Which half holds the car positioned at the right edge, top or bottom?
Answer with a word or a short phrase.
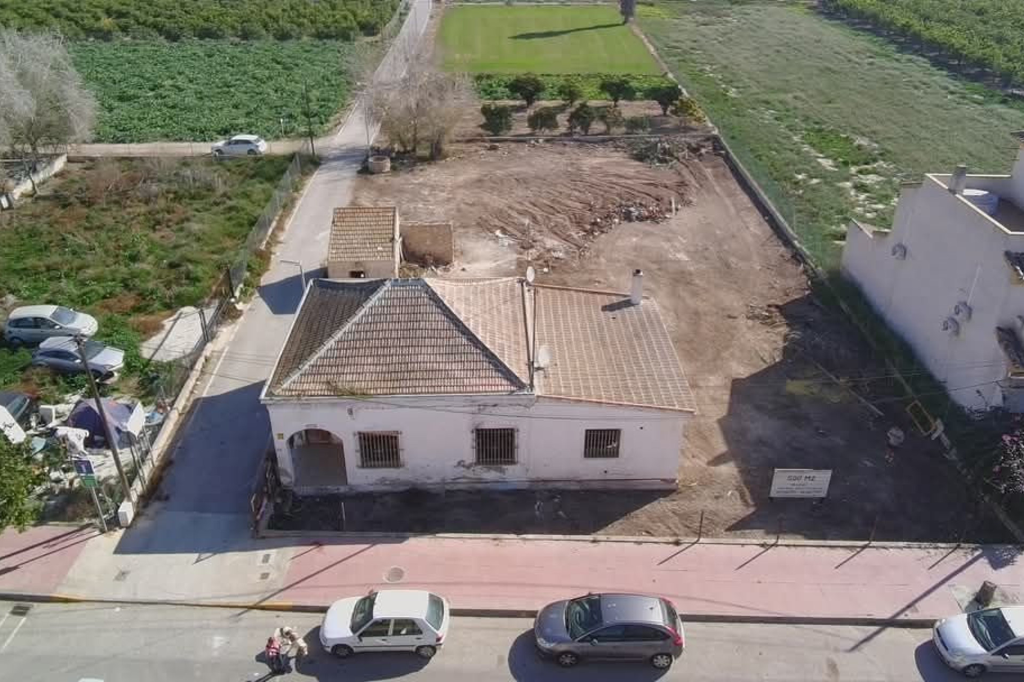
bottom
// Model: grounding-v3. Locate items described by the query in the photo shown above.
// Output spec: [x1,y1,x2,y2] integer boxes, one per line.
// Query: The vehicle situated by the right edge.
[920,597,1024,673]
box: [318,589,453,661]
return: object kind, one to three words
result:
car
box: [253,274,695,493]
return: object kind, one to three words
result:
house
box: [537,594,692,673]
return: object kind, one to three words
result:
car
